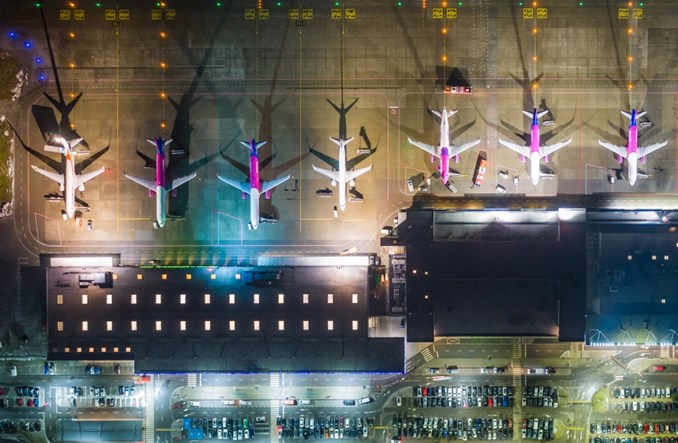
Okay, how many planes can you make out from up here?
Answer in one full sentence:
The photo contains 7 planes.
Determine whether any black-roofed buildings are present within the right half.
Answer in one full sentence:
Yes, a black-roofed building can be seen within the right half.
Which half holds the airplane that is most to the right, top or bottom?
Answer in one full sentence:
The airplane that is most to the right sits in the top half of the picture.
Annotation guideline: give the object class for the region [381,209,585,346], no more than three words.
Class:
building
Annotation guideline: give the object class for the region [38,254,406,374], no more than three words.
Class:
building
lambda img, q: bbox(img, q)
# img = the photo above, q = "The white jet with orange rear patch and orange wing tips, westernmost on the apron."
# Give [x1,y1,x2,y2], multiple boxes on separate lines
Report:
[28,140,104,219]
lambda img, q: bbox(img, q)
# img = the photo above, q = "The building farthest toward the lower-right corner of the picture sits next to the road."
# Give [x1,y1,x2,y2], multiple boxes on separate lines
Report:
[585,210,678,345]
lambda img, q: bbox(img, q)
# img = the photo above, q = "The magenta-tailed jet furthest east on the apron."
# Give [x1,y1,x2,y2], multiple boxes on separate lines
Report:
[595,107,672,187]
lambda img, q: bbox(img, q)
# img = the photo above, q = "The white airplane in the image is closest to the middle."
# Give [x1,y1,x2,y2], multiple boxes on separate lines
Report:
[312,134,372,211]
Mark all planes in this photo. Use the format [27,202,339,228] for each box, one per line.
[407,105,483,185]
[498,107,574,187]
[595,107,672,187]
[216,136,291,230]
[122,134,197,228]
[28,140,104,219]
[312,134,372,211]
